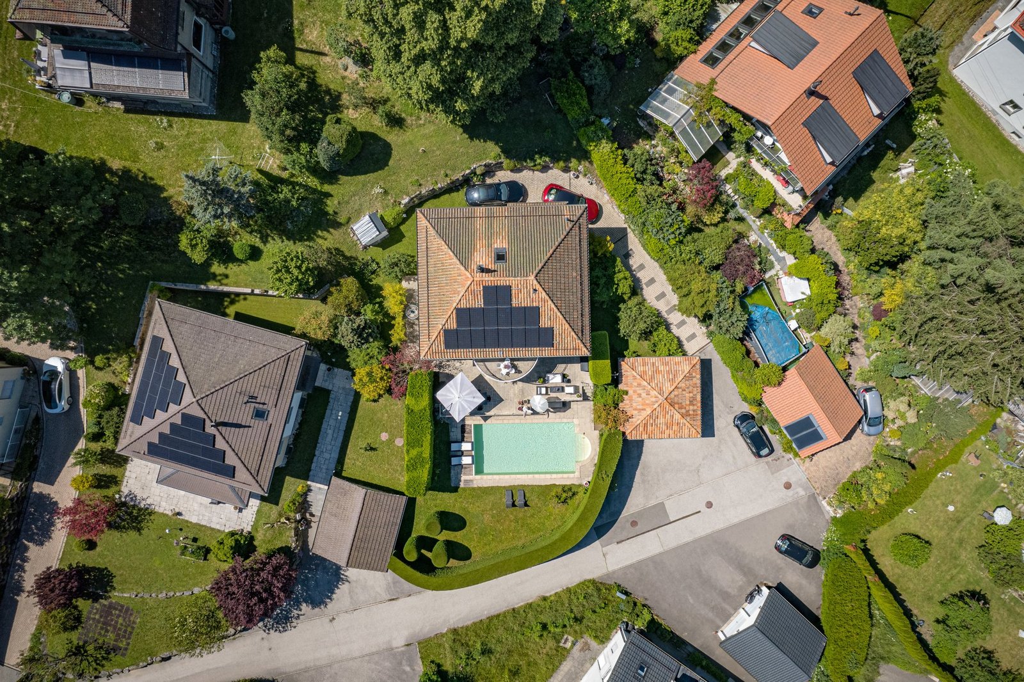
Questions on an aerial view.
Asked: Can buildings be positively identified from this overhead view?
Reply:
Yes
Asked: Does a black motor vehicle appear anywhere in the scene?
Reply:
Yes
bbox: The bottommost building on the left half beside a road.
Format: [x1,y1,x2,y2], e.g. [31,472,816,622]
[311,477,408,572]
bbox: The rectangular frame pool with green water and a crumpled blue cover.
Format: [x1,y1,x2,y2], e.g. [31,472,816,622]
[736,281,809,366]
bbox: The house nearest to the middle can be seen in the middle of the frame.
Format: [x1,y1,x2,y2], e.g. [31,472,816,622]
[415,201,592,383]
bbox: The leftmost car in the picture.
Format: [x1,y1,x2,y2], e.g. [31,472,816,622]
[42,358,72,412]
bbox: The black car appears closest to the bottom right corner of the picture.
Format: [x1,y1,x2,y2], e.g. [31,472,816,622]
[770,532,821,569]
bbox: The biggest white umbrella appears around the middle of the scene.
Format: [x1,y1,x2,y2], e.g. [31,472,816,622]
[436,372,485,422]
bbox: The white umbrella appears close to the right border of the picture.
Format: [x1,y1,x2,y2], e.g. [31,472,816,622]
[981,506,1009,523]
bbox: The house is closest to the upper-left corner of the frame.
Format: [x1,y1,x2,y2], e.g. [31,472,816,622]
[6,0,228,106]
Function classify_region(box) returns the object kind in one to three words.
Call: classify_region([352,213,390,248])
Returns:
shed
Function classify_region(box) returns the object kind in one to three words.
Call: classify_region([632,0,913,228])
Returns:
house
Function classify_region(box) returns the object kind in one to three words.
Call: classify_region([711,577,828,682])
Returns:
building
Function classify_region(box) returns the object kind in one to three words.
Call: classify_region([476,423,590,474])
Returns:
swimming pool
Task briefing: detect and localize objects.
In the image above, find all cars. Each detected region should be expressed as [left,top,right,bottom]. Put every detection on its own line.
[465,178,527,206]
[542,184,600,221]
[42,358,72,412]
[855,384,887,437]
[770,532,821,569]
[730,410,777,462]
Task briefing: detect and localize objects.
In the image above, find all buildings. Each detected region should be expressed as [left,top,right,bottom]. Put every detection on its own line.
[949,0,1024,162]
[618,356,704,441]
[6,0,228,106]
[711,577,828,682]
[311,477,408,572]
[115,299,325,510]
[573,617,719,682]
[756,346,864,458]
[632,0,913,228]
[0,365,25,473]
[415,201,592,383]
[352,213,390,248]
